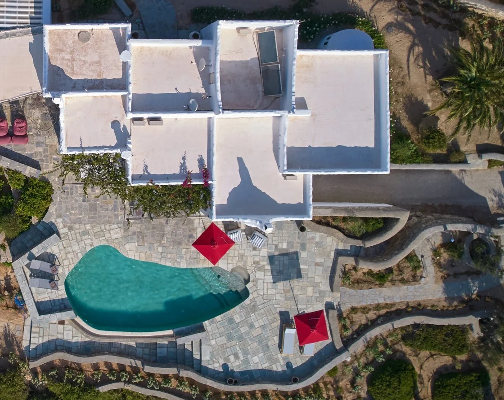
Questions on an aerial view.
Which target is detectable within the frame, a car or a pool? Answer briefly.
pool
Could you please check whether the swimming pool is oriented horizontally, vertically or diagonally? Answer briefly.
horizontally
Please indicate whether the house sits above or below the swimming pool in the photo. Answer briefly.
above it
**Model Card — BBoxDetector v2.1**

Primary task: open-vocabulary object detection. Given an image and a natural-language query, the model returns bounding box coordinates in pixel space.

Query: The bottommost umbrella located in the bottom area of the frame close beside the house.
[192,222,235,265]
